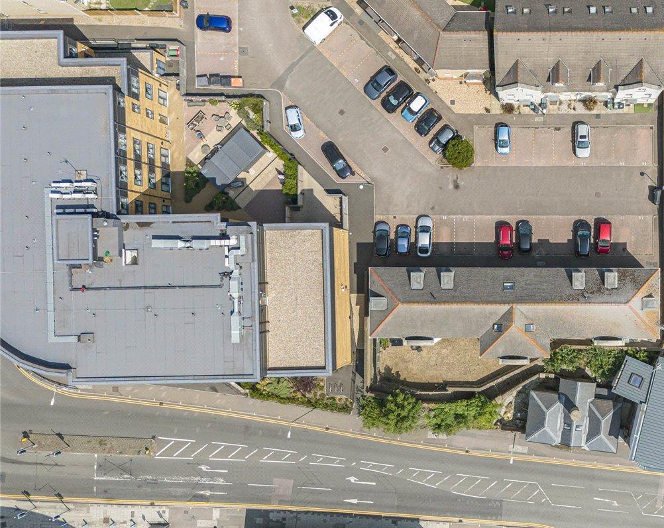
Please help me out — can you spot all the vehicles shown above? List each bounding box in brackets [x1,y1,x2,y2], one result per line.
[497,225,514,257]
[286,106,307,139]
[595,221,612,253]
[305,7,341,46]
[322,141,350,178]
[199,13,232,32]
[516,222,532,254]
[395,226,411,254]
[384,83,413,115]
[417,108,442,137]
[415,218,433,255]
[374,222,392,259]
[431,125,456,153]
[575,221,593,257]
[573,122,591,158]
[366,67,395,98]
[495,123,512,155]
[403,93,428,122]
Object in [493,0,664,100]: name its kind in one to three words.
house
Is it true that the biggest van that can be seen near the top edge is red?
No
